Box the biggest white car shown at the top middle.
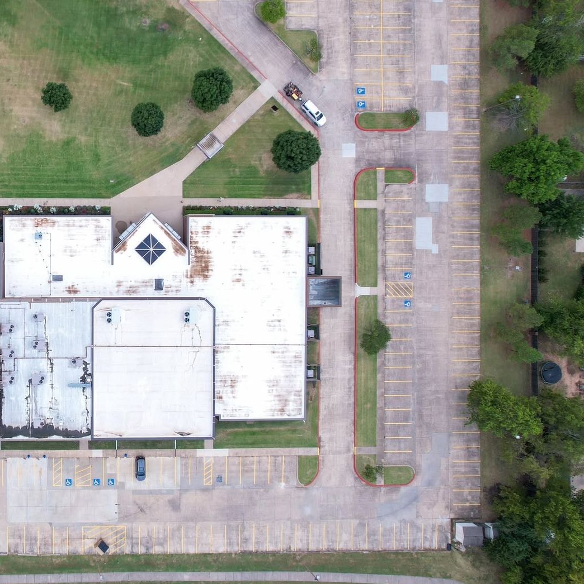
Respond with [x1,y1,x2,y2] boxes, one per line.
[302,100,324,126]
